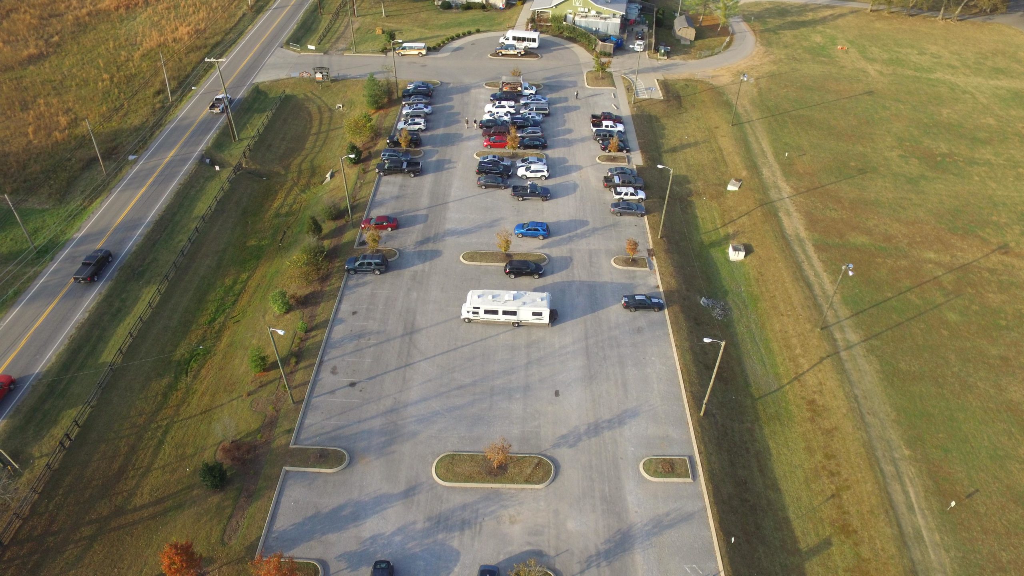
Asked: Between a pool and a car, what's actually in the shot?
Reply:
car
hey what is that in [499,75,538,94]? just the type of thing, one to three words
vehicle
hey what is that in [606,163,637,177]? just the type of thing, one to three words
car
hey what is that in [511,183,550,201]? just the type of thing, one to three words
vehicle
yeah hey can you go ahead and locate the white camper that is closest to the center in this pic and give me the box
[461,287,559,327]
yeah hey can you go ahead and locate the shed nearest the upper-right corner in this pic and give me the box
[675,12,696,43]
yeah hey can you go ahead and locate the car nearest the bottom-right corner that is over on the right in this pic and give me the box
[621,292,663,311]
